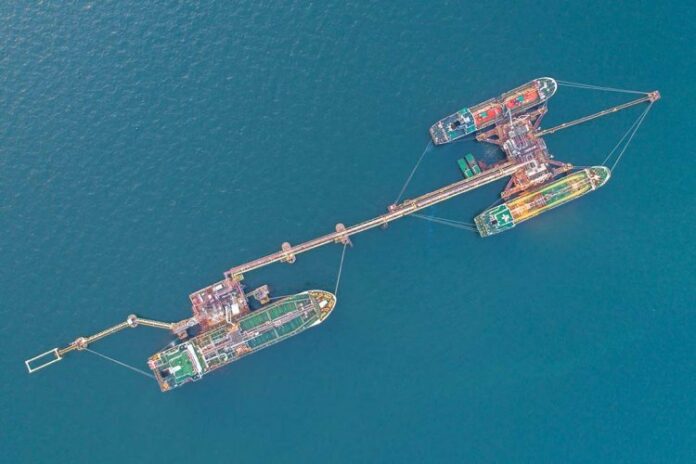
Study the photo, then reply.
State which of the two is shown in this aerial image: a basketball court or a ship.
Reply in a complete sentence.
There is a ship in the scene.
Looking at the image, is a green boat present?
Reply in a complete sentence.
Yes, the image includes a green boat.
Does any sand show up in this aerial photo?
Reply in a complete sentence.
No, the picture contains no sand.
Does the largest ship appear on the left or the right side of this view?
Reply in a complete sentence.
You can find the largest ship on the left side of the picture.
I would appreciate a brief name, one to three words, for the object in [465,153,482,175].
boat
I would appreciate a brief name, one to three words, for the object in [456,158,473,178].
boat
